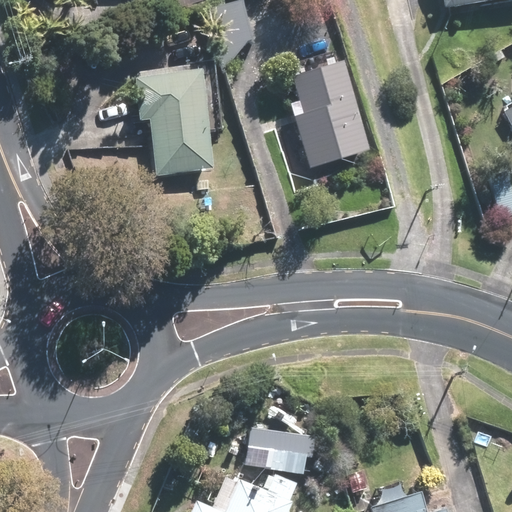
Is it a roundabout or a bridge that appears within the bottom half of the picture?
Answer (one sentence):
What appears within the bottom half of the picture is a roundabout.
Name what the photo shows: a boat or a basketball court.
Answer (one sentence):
The one in the frame is a boat.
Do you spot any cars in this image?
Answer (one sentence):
Yes, a car is visible in the scene.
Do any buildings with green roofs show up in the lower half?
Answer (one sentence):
No, in the lower half there is no building with a green roof.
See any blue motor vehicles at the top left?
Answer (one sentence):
No, there's no blue motor vehicle to be seen at the top left.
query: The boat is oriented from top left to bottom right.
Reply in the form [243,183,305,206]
[266,406,306,436]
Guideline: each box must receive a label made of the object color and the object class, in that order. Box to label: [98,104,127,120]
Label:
white car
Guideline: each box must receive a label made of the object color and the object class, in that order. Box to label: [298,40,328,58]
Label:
blue car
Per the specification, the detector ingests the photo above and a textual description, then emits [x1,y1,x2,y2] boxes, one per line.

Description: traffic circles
[47,306,139,398]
